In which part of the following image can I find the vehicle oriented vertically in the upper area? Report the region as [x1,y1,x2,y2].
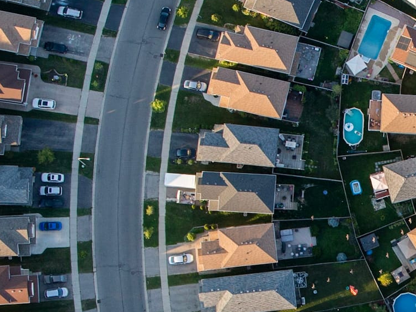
[155,4,170,31]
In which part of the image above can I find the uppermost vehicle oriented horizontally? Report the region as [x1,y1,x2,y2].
[56,4,83,18]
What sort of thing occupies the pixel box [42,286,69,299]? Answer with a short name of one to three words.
vehicle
